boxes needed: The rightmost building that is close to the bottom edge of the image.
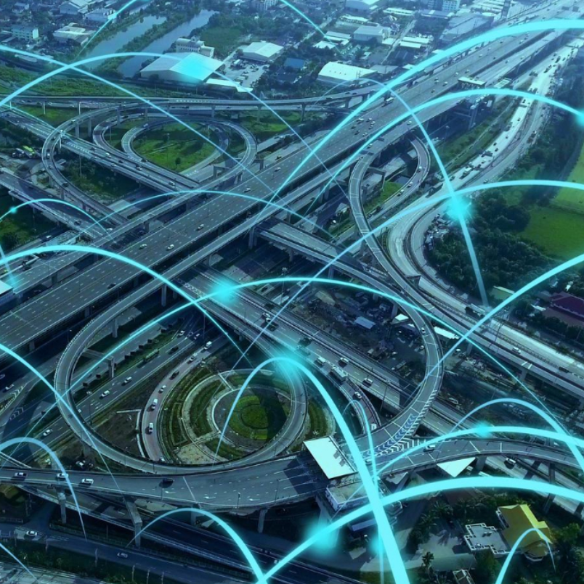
[491,497,555,566]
